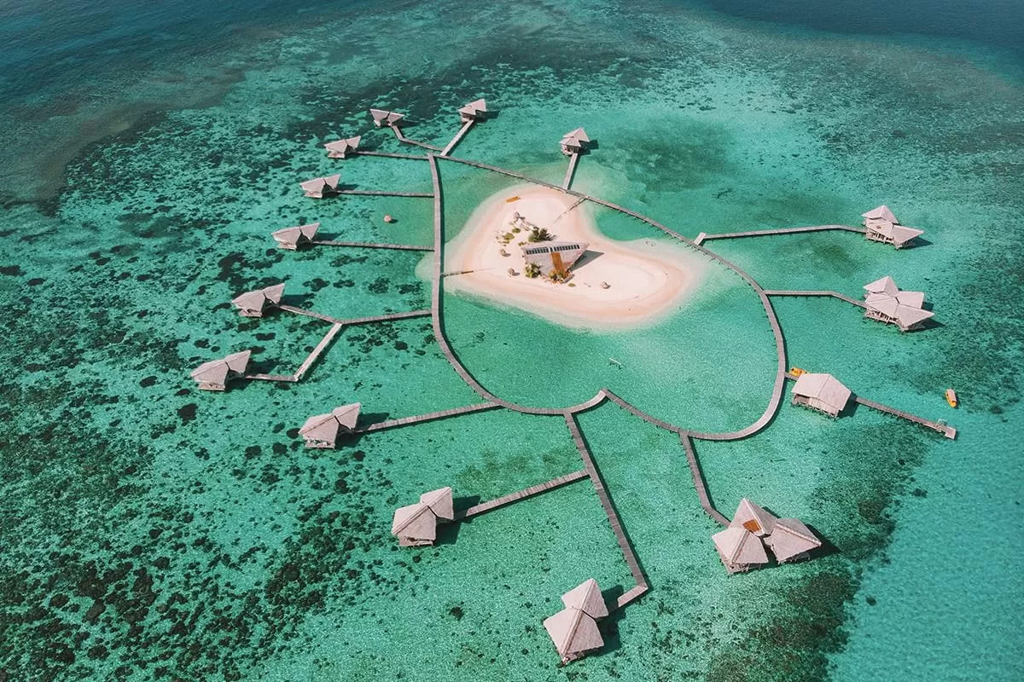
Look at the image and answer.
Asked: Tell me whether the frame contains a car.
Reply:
No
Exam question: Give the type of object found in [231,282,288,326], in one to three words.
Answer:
shed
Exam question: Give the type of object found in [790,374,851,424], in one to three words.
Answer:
building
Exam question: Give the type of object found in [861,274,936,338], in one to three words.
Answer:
building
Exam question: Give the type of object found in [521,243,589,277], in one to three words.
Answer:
house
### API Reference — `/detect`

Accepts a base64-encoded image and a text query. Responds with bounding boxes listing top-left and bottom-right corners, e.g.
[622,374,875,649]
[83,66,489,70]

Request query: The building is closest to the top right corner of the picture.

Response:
[860,204,926,255]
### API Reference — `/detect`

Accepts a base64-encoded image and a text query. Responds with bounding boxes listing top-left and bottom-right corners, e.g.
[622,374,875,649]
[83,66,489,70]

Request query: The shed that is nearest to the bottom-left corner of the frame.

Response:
[189,348,253,400]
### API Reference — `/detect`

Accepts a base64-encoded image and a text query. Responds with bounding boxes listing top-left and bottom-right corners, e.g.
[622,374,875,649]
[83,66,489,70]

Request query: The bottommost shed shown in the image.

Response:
[545,578,608,671]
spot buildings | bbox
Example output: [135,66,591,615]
[324,136,362,165]
[298,402,362,458]
[861,274,936,338]
[521,243,589,277]
[860,204,926,255]
[790,374,851,424]
[393,486,453,557]
[231,282,288,326]
[712,495,824,583]
[370,109,403,134]
[460,100,486,128]
[561,128,589,160]
[189,348,253,400]
[272,222,321,257]
[545,578,608,671]
[300,174,343,206]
